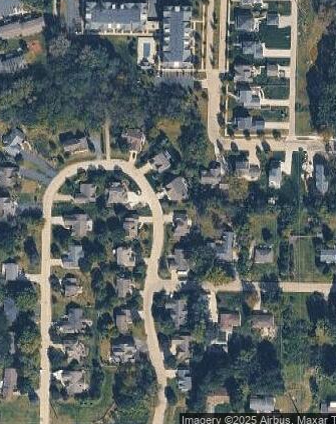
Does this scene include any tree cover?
Yes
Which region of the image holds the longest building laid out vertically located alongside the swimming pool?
top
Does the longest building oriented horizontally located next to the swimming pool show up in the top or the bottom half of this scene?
top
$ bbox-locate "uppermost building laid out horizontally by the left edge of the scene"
[0,16,47,39]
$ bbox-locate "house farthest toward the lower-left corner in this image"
[2,367,19,400]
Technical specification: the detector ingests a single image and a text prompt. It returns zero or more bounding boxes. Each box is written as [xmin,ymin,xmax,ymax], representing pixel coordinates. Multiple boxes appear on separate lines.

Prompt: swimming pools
[138,36,155,64]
